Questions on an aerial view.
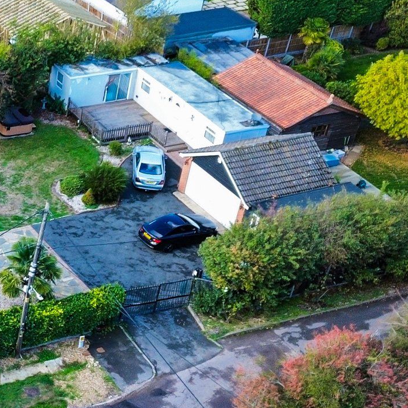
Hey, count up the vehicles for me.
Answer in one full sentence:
In total, there are 2 vehicles in the scene.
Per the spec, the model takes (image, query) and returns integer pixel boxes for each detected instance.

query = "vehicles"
[129,147,165,190]
[137,213,215,256]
